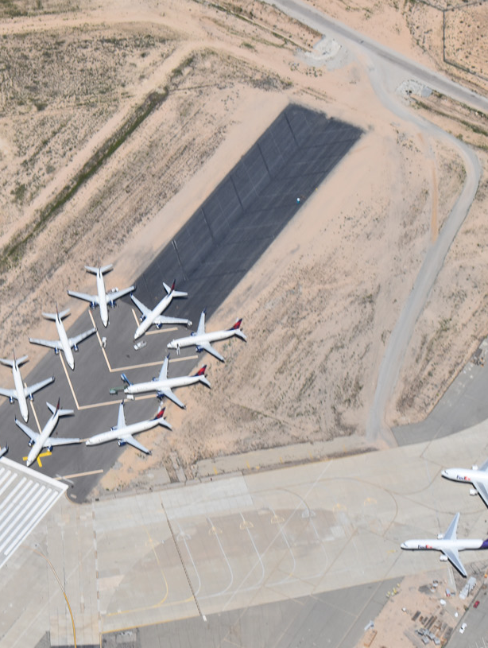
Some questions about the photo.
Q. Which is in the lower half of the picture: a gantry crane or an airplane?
airplane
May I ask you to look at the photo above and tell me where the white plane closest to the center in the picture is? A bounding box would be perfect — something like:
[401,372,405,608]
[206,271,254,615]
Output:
[168,307,245,359]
